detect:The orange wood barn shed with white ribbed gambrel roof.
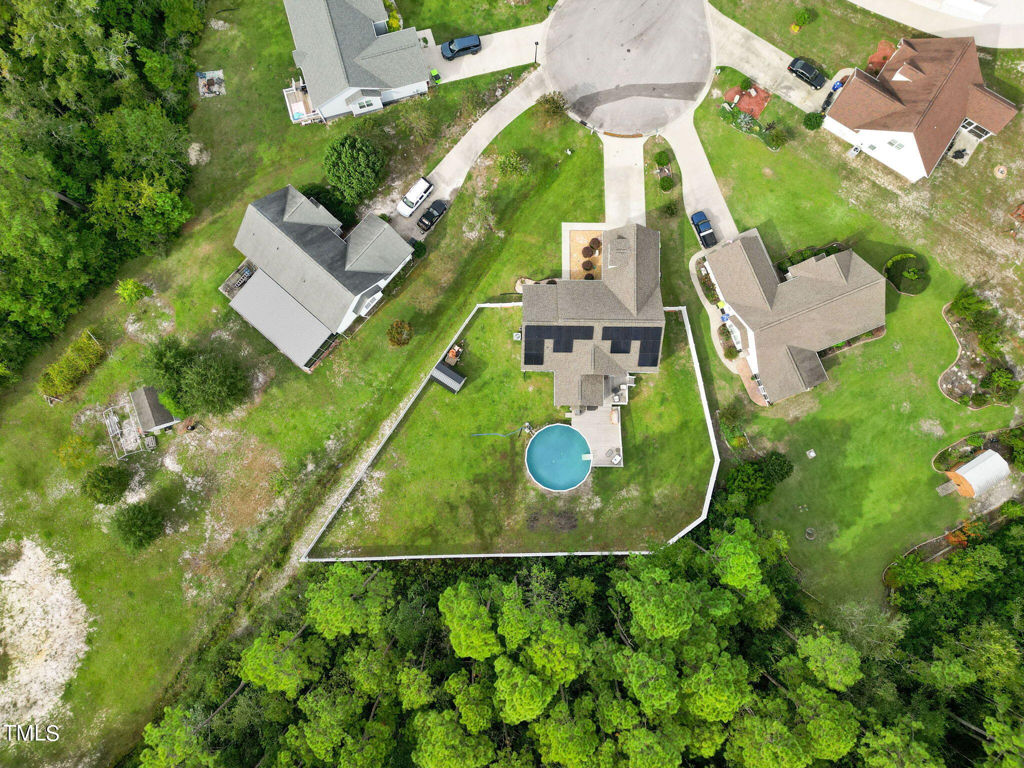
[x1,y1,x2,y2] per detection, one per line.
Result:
[937,446,1014,497]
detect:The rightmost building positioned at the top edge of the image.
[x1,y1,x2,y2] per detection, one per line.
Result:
[824,35,1020,181]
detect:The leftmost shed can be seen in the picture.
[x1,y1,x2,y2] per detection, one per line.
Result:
[128,382,182,435]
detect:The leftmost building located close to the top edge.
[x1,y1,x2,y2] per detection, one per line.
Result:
[284,0,429,119]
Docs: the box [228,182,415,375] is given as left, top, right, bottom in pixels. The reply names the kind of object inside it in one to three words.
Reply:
house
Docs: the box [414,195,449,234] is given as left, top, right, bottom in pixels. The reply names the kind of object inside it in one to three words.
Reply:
car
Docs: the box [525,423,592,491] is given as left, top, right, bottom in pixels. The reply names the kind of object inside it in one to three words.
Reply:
swimming pool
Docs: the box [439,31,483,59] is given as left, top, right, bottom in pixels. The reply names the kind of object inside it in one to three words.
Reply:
car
